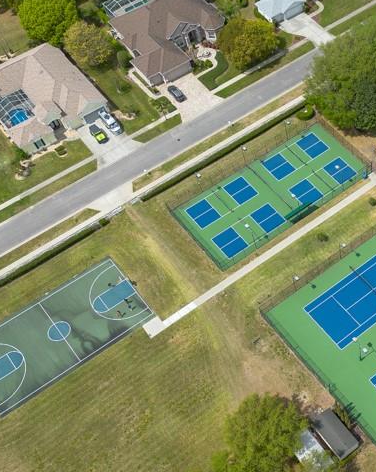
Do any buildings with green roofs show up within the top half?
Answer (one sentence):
No, looking within the top half, there is no building with a green roof.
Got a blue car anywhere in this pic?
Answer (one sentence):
No, there appears to be no blue car in this shot.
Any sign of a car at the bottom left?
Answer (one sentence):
No, the scene shows no car at the bottom left.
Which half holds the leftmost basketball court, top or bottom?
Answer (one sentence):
Seen from above, the leftmost basketball court lies in the bottom half of the view.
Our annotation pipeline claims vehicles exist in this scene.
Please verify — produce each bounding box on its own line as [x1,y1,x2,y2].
[168,84,184,101]
[101,111,119,132]
[92,124,109,142]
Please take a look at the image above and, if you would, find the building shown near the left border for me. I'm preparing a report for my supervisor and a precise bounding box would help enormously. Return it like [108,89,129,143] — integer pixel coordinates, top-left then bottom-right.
[0,39,110,160]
